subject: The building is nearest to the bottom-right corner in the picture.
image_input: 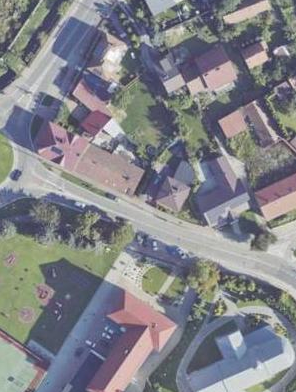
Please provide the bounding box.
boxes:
[187,328,291,392]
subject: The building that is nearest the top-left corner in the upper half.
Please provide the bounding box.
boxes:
[79,33,113,74]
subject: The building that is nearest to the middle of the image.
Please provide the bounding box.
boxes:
[153,176,190,214]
